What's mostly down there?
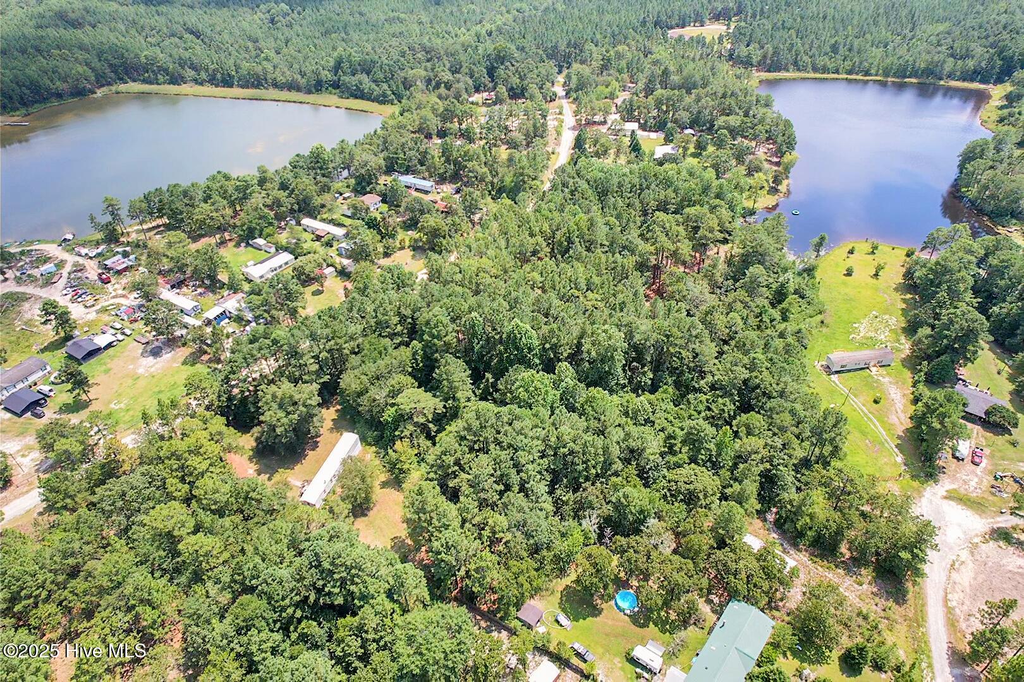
trees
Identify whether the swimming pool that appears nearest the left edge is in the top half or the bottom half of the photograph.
bottom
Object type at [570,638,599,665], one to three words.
truck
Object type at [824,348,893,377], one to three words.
house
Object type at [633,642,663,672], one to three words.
vehicle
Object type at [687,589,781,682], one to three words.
house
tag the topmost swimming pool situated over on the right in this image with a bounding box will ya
[613,591,639,620]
